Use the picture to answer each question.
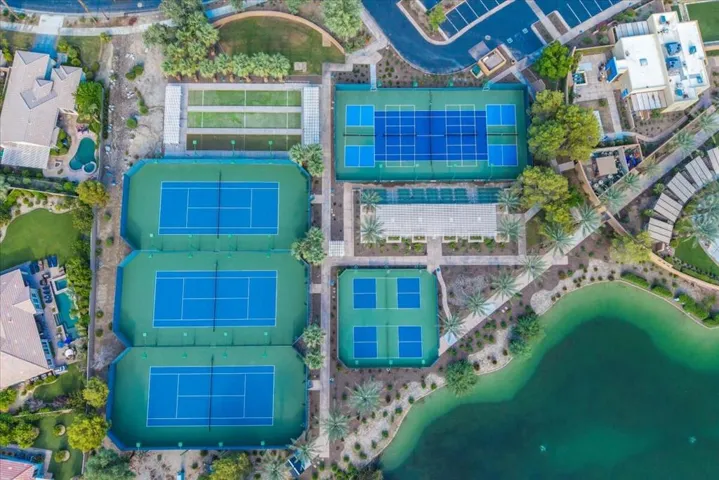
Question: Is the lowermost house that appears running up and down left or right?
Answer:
left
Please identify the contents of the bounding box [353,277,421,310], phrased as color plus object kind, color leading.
blue sports court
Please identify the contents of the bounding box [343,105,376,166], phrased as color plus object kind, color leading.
blue sports court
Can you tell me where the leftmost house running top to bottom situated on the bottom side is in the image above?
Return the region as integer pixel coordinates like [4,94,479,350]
[0,269,57,391]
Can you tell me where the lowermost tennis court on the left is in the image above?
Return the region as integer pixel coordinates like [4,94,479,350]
[112,346,306,447]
